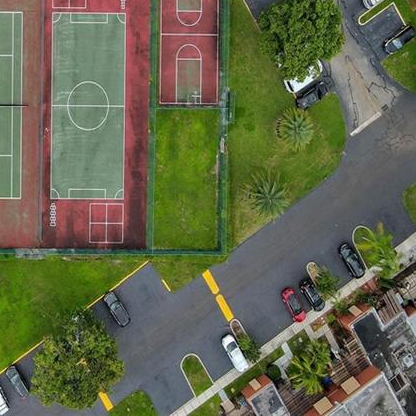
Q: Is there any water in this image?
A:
No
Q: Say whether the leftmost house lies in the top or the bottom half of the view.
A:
bottom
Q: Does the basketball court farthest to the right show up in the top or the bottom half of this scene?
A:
top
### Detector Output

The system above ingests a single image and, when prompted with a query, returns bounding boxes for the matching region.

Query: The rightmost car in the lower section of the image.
[337,242,366,278]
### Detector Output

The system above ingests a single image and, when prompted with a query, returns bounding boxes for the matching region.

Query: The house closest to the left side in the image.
[236,372,290,416]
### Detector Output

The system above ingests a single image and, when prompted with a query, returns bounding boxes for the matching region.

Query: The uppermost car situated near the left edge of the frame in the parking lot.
[6,364,30,398]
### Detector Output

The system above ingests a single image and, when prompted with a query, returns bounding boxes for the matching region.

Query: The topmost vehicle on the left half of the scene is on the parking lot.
[104,291,132,328]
